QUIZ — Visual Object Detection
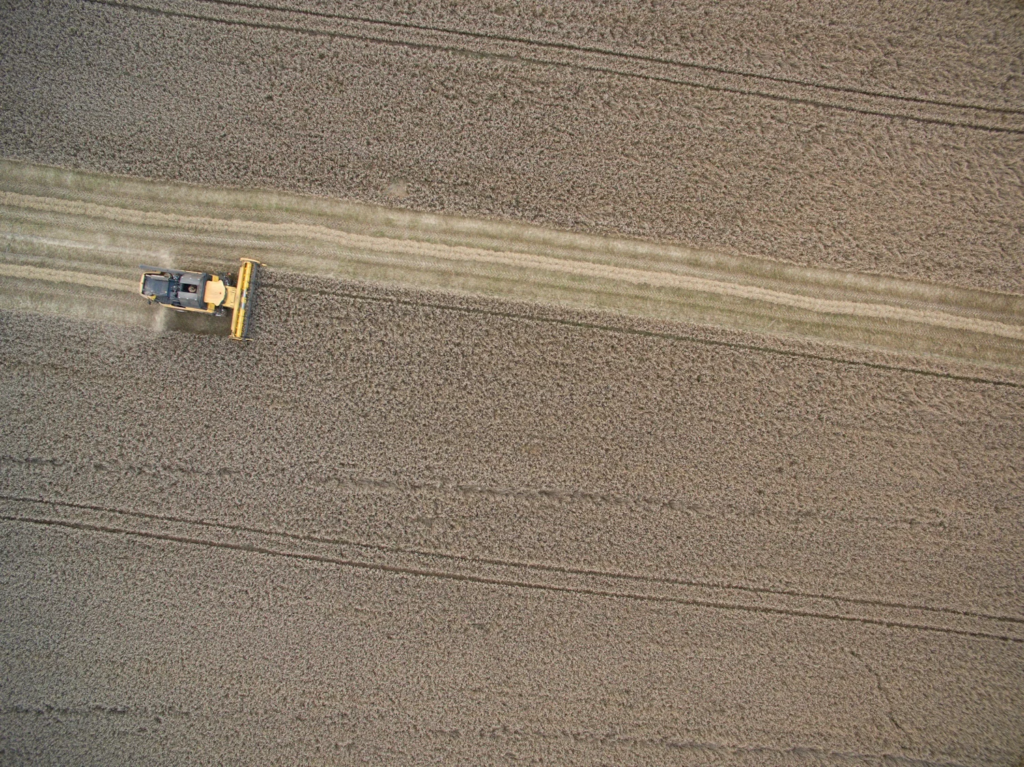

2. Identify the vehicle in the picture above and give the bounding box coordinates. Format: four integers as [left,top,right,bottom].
[137,257,269,340]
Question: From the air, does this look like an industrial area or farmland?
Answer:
farmland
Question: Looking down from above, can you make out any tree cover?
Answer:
No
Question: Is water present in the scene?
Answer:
No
